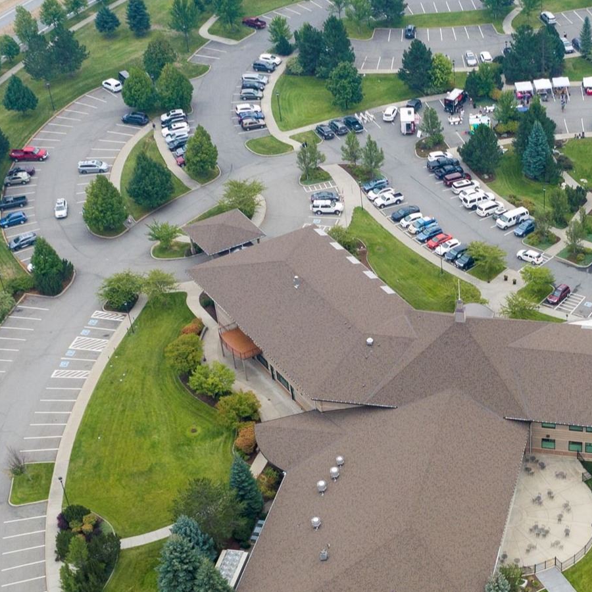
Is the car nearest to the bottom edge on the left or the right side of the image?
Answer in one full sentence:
It is on the right.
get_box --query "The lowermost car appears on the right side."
[548,279,569,305]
